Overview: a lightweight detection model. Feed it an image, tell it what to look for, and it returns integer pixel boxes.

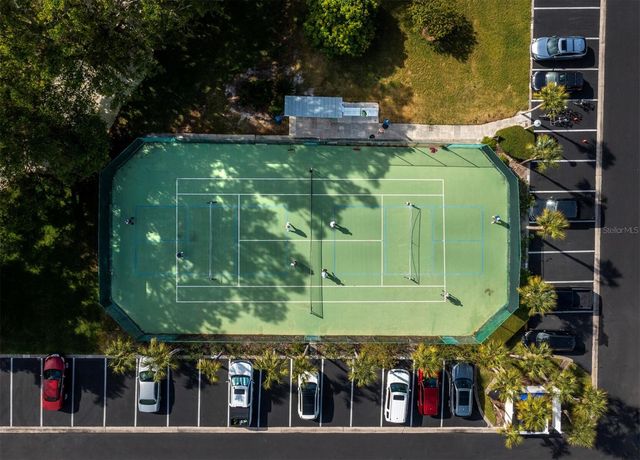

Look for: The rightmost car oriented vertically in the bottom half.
[450,362,476,418]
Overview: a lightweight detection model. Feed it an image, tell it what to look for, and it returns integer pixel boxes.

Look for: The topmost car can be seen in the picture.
[529,34,586,61]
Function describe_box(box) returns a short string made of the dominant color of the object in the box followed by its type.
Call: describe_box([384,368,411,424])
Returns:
white car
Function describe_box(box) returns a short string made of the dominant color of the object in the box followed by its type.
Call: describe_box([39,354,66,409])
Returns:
red car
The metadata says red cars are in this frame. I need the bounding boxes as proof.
[39,354,66,409]
[417,366,441,416]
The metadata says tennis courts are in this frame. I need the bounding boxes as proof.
[112,146,508,335]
